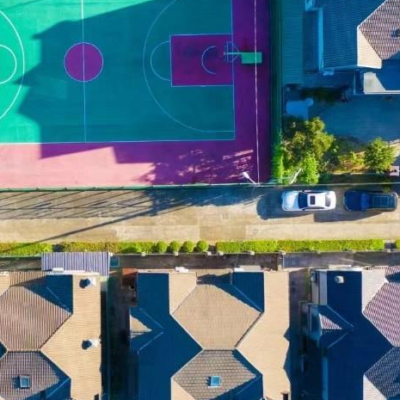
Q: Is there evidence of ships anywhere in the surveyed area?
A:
No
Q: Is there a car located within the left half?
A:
No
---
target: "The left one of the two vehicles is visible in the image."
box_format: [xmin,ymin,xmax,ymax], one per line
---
[278,188,335,213]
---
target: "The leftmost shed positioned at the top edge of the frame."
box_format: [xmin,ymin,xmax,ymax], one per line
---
[276,0,310,86]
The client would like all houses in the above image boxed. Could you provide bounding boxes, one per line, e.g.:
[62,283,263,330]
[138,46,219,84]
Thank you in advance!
[301,0,400,94]
[298,267,400,400]
[0,270,109,400]
[127,268,296,400]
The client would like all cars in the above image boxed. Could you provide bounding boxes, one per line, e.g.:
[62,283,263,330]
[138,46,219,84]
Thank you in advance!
[278,188,335,213]
[341,187,397,213]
